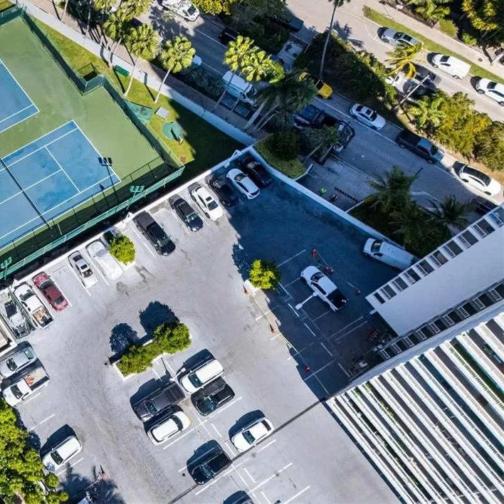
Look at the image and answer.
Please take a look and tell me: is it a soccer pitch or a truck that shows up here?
truck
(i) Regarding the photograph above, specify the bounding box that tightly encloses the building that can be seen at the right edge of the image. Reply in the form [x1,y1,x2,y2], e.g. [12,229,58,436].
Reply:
[328,189,504,504]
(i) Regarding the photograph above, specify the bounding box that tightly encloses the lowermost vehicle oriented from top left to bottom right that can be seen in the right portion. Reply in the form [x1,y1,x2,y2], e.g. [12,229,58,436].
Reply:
[298,264,353,313]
